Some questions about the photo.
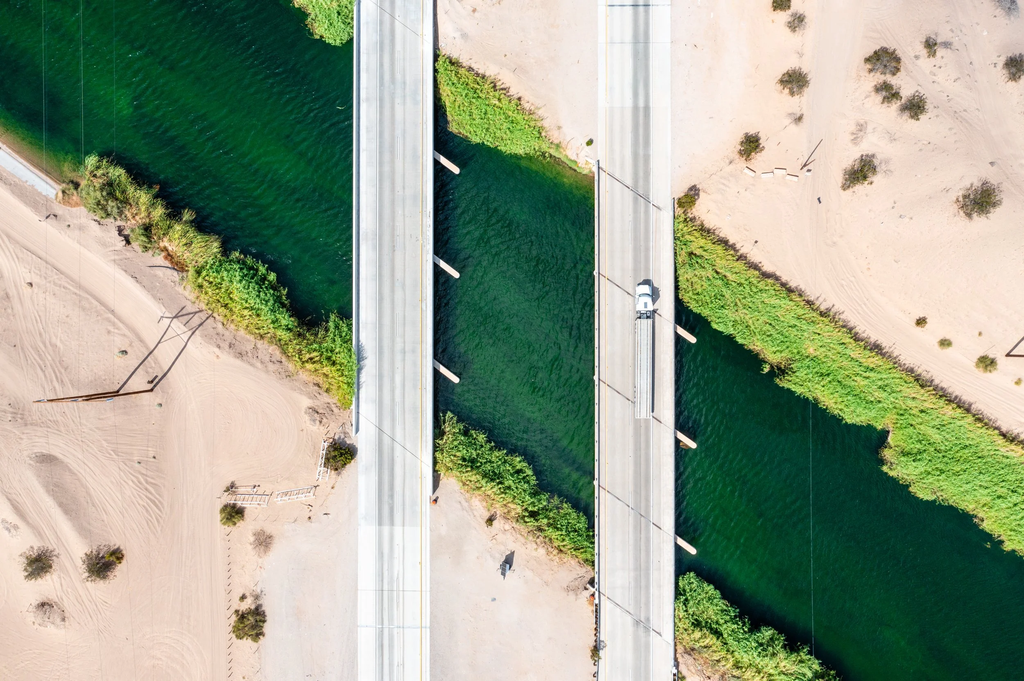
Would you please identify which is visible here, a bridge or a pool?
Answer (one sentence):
It is a bridge that can be seen here.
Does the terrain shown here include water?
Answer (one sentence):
Yes, there's water in this view.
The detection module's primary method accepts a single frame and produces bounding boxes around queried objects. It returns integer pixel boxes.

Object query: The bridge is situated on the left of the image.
[353,0,460,497]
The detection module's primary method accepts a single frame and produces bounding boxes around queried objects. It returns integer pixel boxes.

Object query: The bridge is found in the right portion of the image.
[583,155,697,670]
